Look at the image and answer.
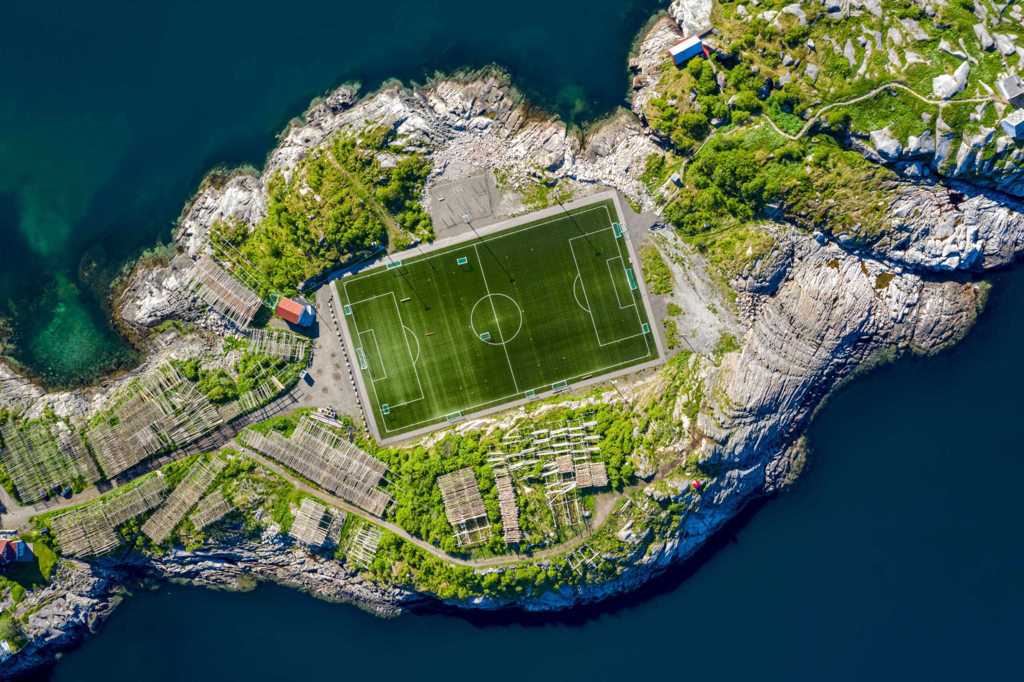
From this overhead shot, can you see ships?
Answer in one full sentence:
No, this view has no ship in it.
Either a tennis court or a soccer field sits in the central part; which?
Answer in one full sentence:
Looking in the central part, you will find a soccer field.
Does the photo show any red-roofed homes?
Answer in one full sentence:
Yes, a red-roofed home appears in the view.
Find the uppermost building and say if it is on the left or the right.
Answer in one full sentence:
The uppermost building sits on the right side.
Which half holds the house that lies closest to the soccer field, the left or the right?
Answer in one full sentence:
The house that lies closest to the soccer field appears in the left half of the scene.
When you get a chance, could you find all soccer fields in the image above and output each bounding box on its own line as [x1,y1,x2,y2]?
[328,191,666,447]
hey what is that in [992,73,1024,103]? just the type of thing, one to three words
house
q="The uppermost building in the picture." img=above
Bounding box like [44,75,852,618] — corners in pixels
[667,37,707,67]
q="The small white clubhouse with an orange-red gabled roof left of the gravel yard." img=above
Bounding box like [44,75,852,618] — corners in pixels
[276,296,314,324]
